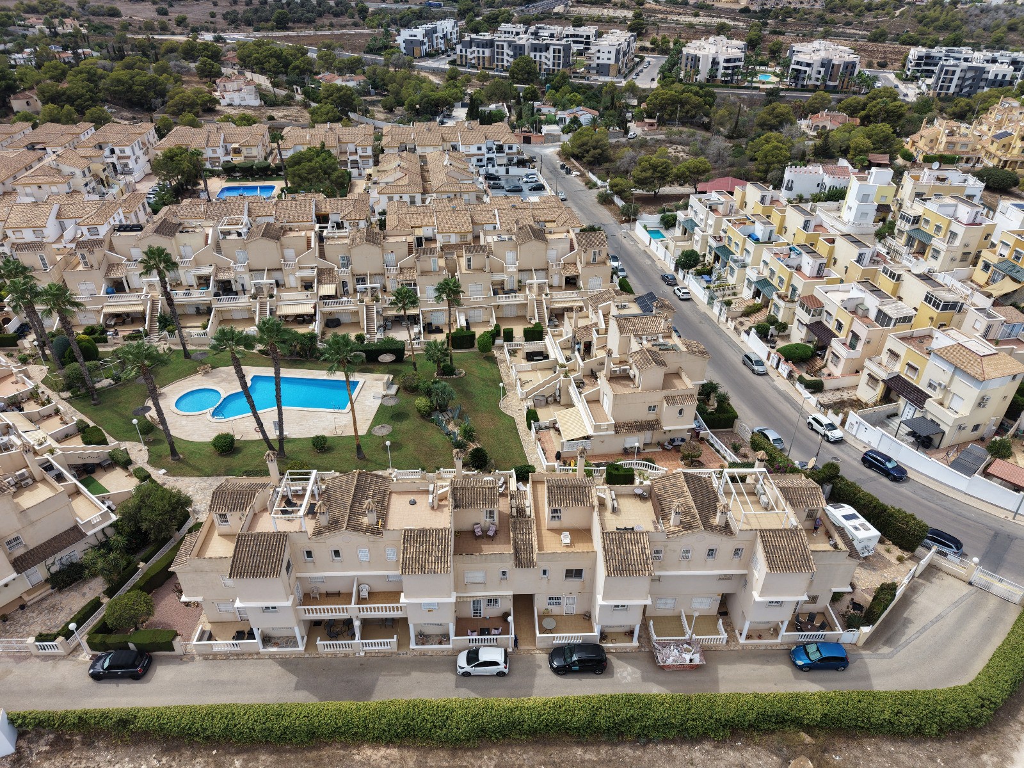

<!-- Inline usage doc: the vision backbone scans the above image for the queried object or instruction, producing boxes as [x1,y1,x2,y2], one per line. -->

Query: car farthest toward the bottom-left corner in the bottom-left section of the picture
[89,652,151,684]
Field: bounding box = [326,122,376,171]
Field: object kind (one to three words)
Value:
house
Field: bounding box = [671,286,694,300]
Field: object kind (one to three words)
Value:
car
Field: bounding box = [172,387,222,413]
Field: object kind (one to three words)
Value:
swimming pool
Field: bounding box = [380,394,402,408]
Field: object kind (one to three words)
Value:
umbrella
